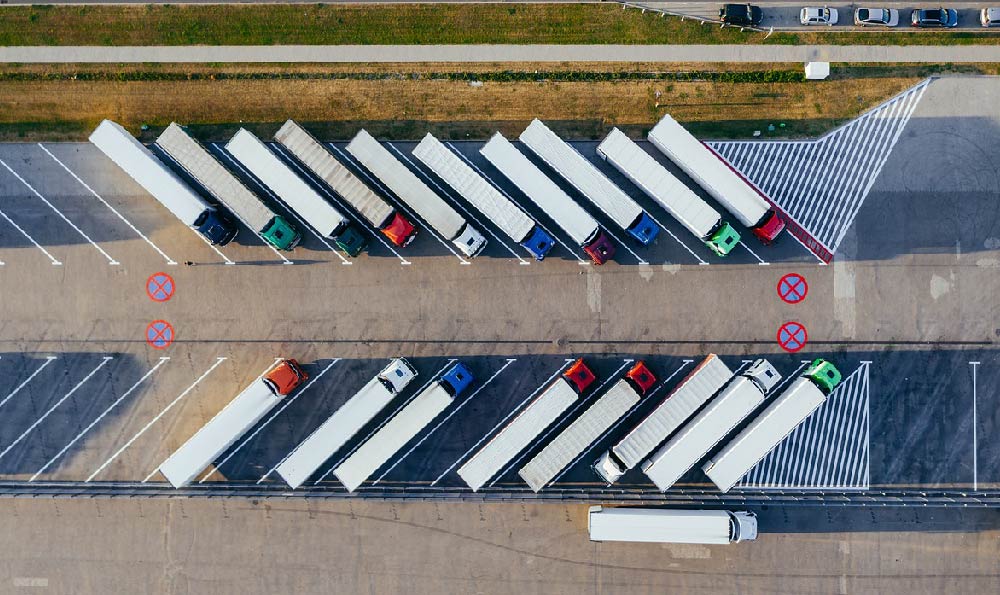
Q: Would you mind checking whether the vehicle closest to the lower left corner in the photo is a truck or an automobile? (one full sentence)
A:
Looking closely, the vehicle closest to the lower left corner is a truck.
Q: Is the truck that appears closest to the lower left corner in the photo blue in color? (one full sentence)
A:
No, the truck that appears closest to the lower left corner is white.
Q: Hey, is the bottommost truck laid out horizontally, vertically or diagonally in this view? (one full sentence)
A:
The bottommost truck is laid out horizontally.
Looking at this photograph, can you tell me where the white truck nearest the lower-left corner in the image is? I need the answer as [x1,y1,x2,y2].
[159,351,311,489]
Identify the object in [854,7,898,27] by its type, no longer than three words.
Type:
car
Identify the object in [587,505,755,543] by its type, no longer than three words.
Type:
truck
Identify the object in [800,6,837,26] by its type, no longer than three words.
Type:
car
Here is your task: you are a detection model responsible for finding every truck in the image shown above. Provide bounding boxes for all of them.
[412,133,557,264]
[587,505,755,543]
[519,358,658,491]
[276,352,420,489]
[458,357,598,490]
[641,356,781,491]
[520,119,660,250]
[346,129,490,263]
[155,122,306,258]
[700,359,842,491]
[224,127,373,263]
[596,127,739,259]
[159,351,311,489]
[589,354,732,486]
[334,357,478,492]
[88,117,245,253]
[272,117,422,251]
[479,132,619,267]
[646,114,788,247]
